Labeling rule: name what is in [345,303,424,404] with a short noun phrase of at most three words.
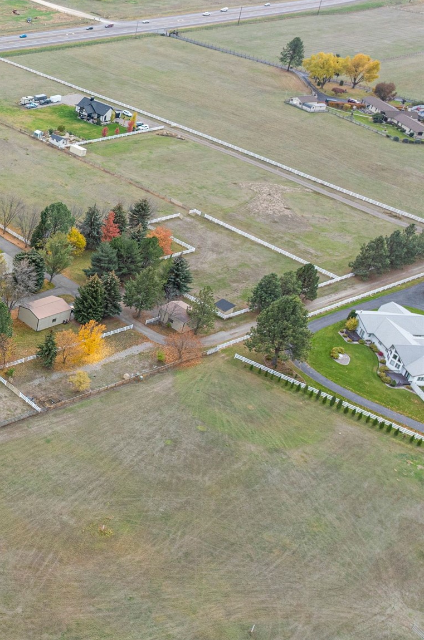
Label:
house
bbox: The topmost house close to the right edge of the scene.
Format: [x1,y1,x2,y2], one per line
[364,97,424,139]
